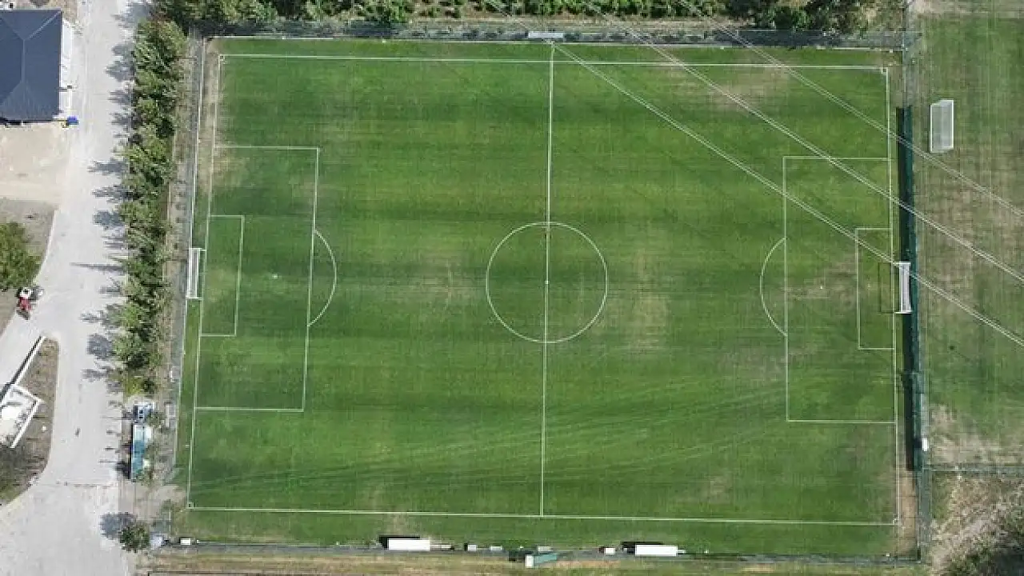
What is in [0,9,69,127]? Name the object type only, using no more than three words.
house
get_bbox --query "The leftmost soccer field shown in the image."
[173,37,918,557]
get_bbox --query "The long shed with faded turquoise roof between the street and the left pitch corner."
[129,423,159,479]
